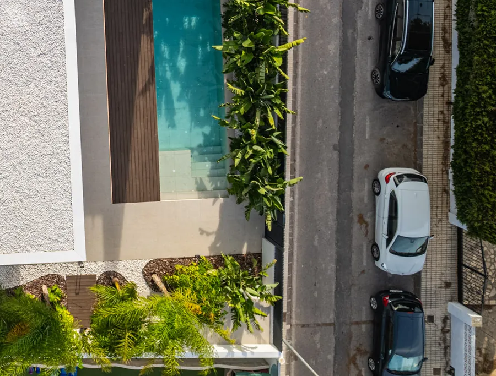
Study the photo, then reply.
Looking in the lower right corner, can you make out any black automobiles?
Yes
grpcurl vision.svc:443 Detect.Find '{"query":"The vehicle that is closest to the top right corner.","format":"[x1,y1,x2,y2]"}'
[371,0,436,103]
